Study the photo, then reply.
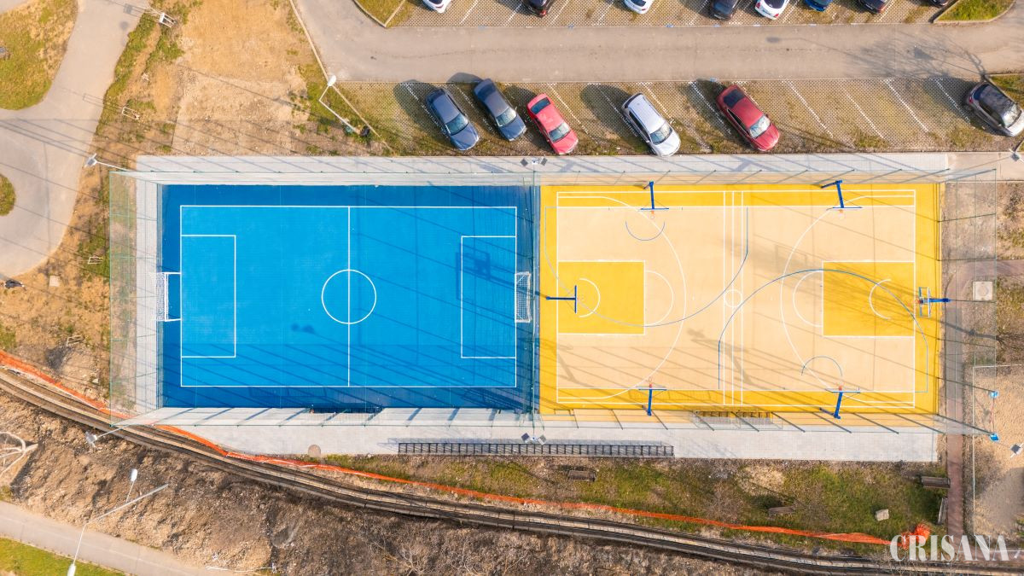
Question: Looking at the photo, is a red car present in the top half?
Yes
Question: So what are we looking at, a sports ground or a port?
sports ground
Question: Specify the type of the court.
basketball court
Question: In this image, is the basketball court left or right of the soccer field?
on the right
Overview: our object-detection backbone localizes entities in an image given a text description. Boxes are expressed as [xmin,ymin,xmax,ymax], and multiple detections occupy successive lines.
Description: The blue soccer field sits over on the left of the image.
[161,185,539,413]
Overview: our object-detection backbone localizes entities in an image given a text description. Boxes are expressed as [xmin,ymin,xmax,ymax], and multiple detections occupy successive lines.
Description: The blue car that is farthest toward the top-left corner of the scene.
[427,88,478,151]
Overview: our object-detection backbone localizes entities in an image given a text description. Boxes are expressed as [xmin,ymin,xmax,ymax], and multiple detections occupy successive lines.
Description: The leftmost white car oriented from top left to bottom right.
[626,93,683,159]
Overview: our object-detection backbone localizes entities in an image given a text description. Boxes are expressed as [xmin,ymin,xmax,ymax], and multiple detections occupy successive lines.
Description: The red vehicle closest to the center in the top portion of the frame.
[529,93,579,158]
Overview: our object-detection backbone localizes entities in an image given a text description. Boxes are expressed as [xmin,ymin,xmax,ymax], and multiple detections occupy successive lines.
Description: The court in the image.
[539,174,944,423]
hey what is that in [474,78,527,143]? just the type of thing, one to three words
car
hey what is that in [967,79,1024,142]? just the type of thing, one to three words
car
